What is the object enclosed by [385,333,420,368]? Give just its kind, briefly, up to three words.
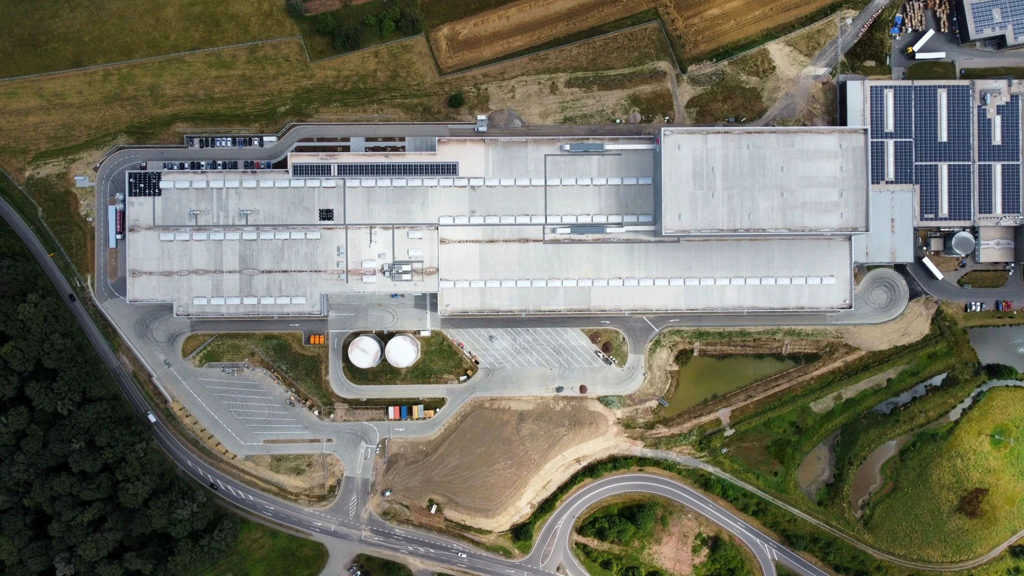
storage tank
